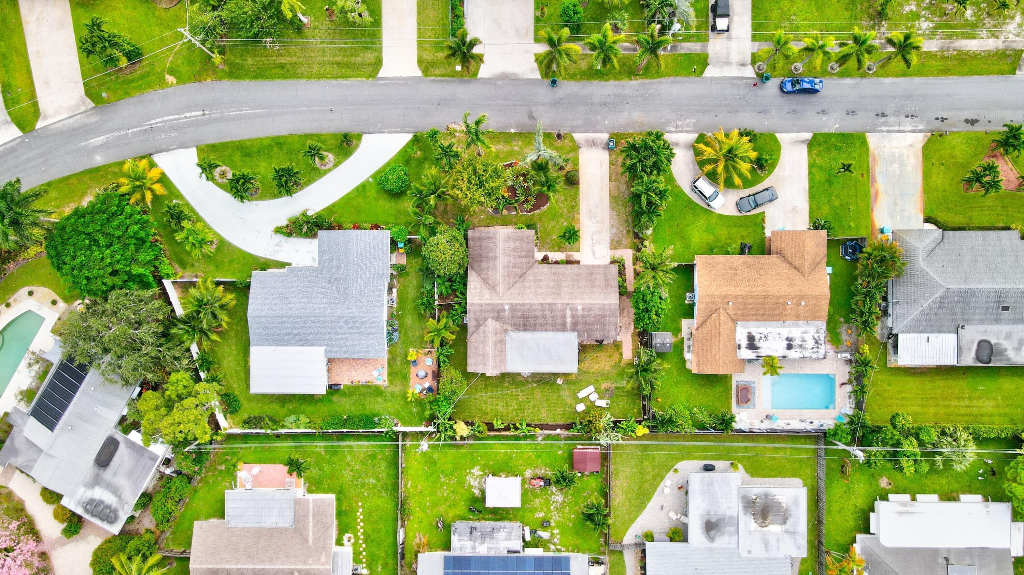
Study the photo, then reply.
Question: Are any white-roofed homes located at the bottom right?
Yes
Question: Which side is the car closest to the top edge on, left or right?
right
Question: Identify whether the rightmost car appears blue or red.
blue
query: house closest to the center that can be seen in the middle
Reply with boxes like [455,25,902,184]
[466,228,620,374]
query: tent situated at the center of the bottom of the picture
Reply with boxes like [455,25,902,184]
[486,473,521,508]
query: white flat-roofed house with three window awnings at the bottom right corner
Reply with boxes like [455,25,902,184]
[853,494,1024,575]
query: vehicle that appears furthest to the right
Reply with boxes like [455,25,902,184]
[780,73,824,94]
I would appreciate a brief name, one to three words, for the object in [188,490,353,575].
house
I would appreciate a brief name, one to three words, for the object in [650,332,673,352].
shed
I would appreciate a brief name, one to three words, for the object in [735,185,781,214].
car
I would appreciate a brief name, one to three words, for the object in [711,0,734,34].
car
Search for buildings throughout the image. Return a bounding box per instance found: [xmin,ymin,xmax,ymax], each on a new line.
[0,341,166,536]
[853,494,1024,575]
[188,490,353,575]
[573,443,601,472]
[650,332,673,352]
[417,521,589,575]
[645,472,807,575]
[466,228,620,374]
[691,229,833,375]
[884,229,1024,366]
[246,229,391,394]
